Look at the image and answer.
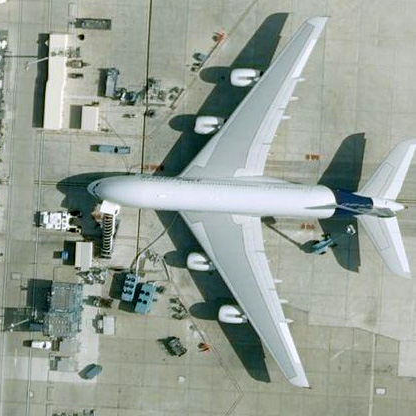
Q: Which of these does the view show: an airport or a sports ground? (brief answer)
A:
airport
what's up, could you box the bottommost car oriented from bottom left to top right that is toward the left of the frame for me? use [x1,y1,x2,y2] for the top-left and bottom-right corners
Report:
[83,362,104,380]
